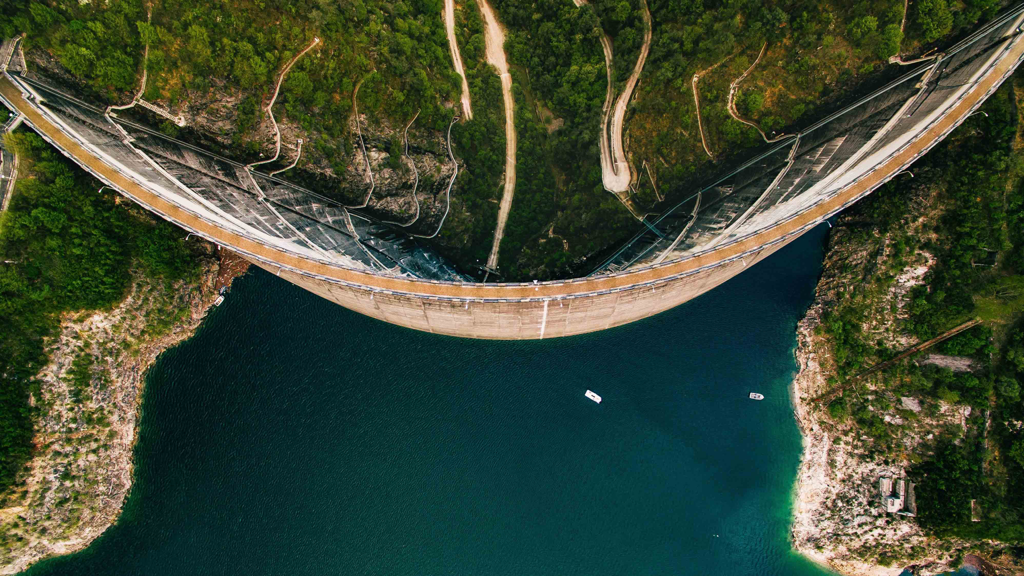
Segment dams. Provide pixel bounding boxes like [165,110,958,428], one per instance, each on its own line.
[0,7,1024,340]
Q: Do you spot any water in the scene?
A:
Yes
